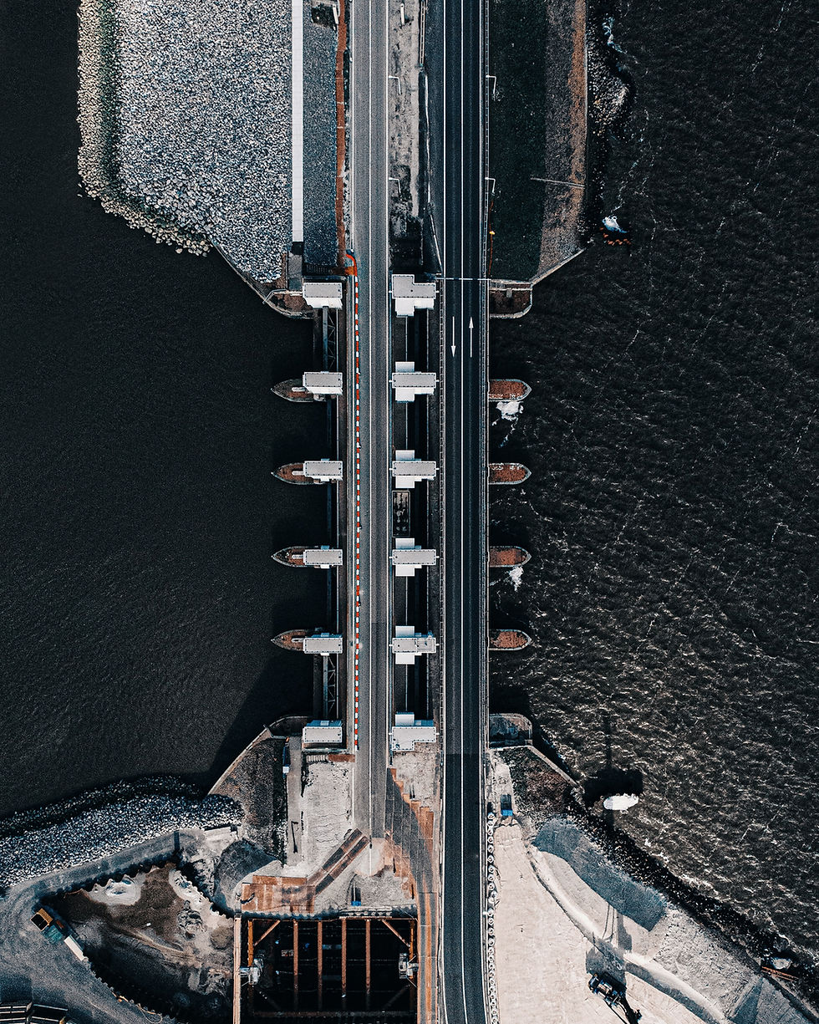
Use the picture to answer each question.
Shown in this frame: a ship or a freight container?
freight container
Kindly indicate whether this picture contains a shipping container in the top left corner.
No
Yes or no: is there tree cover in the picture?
No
